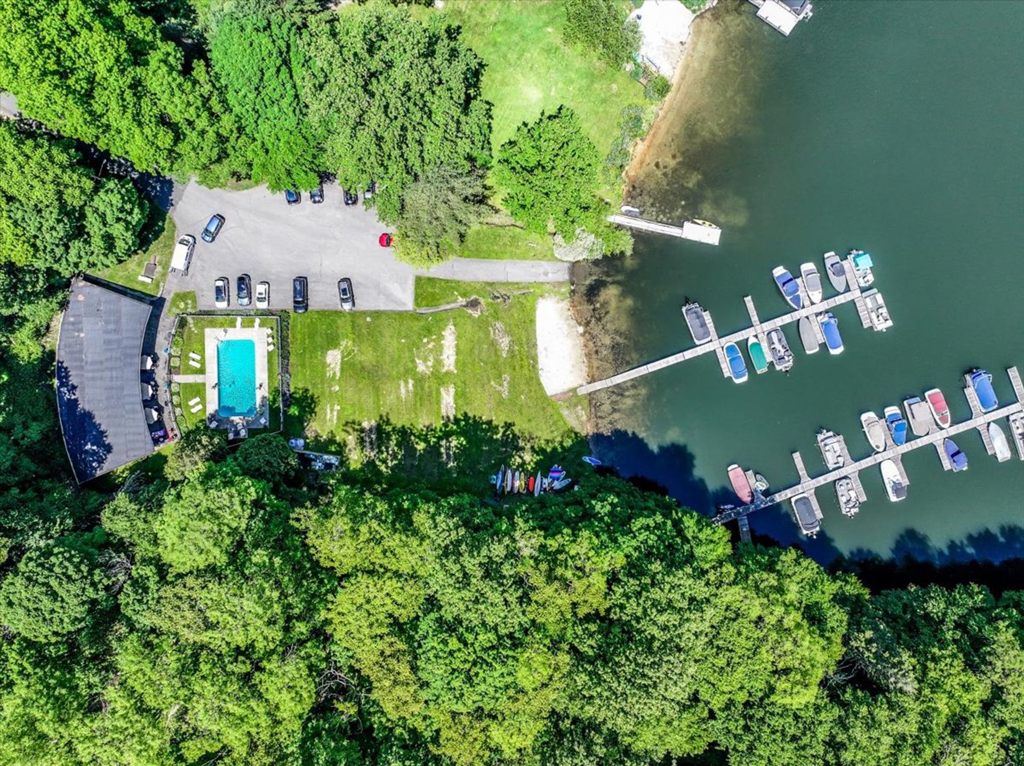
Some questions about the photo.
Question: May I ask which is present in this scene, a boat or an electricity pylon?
boat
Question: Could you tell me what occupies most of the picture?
trees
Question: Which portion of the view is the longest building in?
left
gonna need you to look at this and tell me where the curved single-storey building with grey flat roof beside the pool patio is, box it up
[55,278,156,485]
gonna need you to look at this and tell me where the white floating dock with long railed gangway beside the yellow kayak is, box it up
[607,211,722,245]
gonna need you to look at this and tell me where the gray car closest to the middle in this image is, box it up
[337,280,354,310]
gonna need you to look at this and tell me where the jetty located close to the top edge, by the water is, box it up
[739,0,800,36]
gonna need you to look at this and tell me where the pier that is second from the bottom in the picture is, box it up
[577,258,872,395]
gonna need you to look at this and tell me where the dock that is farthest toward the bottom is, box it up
[721,366,1024,549]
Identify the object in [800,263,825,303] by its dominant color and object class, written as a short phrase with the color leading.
white boat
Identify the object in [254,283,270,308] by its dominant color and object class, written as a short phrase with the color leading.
white car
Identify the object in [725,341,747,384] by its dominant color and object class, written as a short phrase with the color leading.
blue boat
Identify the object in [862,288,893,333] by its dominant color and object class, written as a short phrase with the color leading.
white boat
